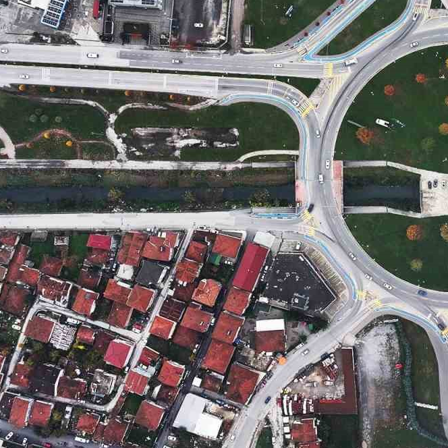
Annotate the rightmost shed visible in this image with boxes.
[317,346,359,413]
